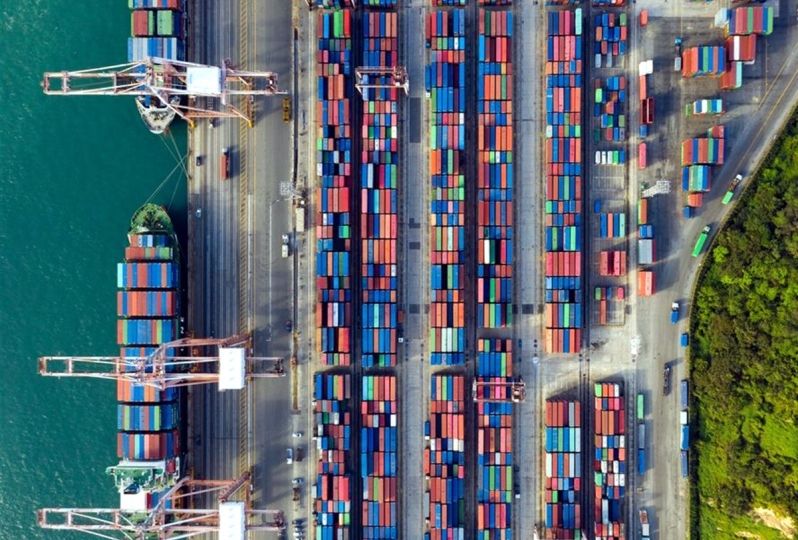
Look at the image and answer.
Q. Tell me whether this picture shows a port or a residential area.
port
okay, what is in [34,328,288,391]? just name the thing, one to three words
container crane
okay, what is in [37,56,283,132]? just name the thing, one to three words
container crane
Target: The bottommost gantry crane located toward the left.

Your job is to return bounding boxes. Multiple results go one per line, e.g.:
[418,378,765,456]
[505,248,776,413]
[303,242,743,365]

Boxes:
[32,462,288,540]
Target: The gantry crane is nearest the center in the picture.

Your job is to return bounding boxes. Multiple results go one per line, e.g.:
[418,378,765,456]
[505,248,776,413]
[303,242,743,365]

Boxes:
[465,372,525,403]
